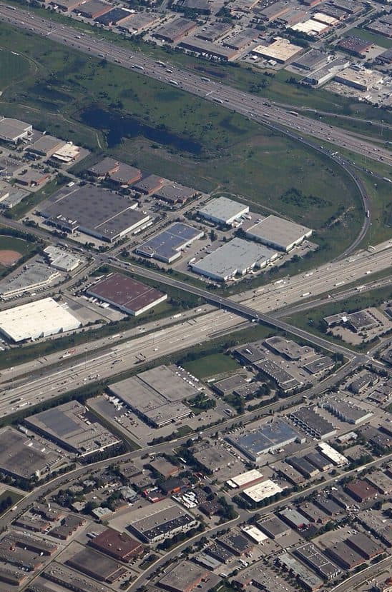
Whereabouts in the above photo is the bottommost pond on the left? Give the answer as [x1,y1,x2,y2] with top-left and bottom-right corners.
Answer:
[78,108,201,154]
